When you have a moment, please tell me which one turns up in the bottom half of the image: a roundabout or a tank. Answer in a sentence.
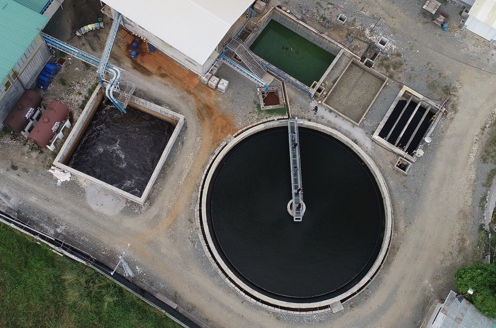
The feature located in the bottom half of the image is a tank.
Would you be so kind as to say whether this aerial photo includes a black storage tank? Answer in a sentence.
Yes, there is a black storage tank in the image.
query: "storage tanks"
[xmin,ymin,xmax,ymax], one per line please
[197,114,393,314]
[55,81,188,206]
[3,85,45,134]
[29,95,73,147]
[372,87,447,162]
